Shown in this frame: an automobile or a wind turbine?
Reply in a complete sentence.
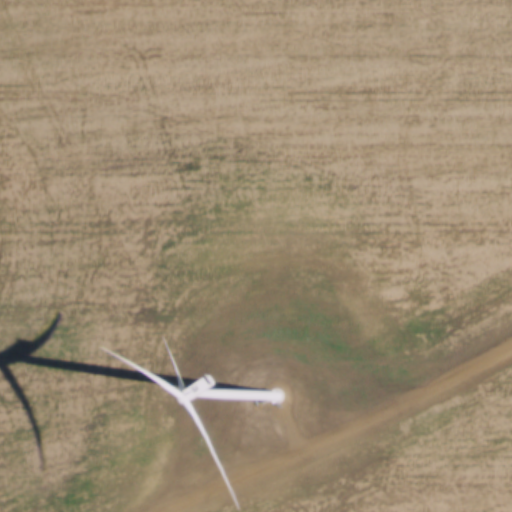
Visible in the photo is a wind turbine.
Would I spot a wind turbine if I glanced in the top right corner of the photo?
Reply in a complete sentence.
No, there is no wind turbine in the top right corner of the photo.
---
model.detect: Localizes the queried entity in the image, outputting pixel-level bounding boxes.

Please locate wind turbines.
[102,336,285,508]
